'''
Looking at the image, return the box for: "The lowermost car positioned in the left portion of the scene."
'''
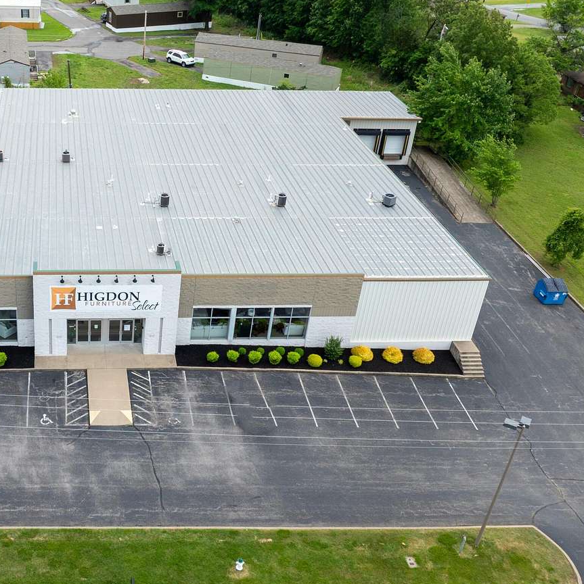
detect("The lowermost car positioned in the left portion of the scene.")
[163,46,198,64]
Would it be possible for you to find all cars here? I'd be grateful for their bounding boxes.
[99,8,109,21]
[163,46,198,64]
